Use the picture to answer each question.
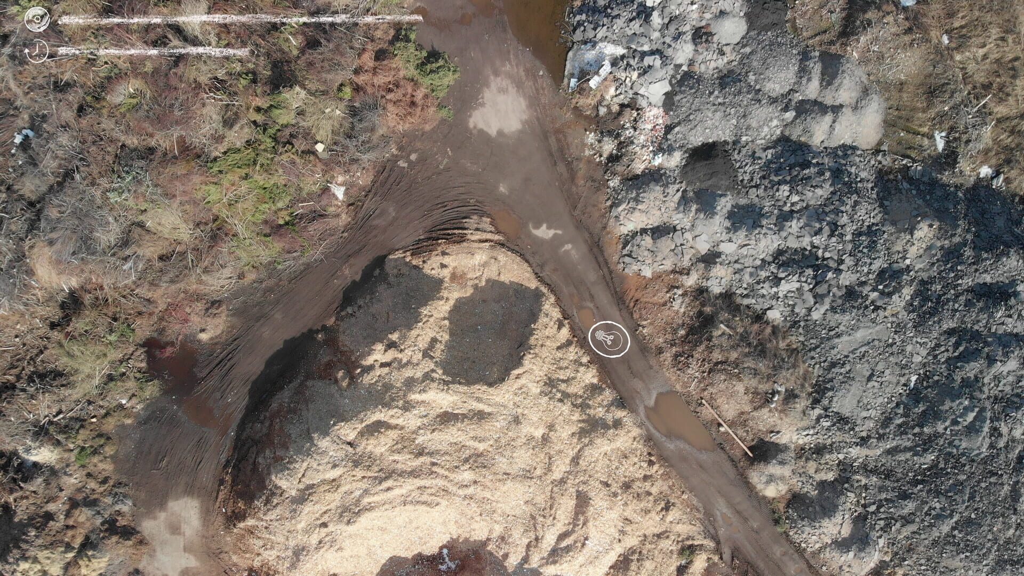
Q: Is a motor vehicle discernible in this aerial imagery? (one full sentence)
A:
No, no motor vehicle can be seen from above.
